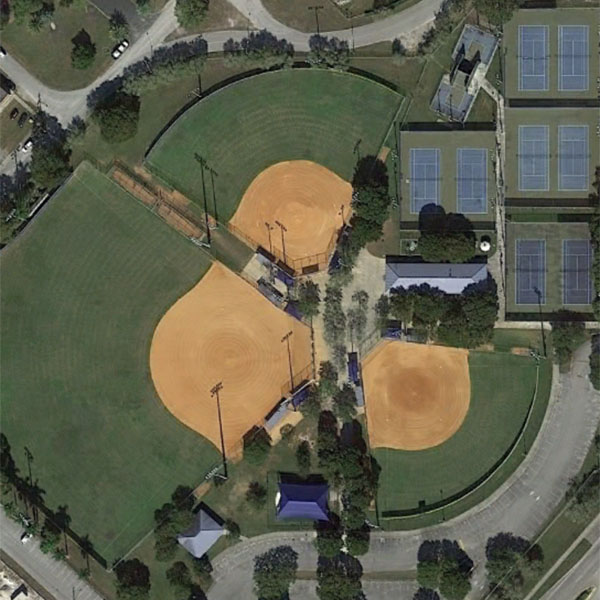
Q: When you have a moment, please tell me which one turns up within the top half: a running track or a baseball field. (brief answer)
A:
baseball field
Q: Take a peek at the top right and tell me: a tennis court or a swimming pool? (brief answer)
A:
tennis court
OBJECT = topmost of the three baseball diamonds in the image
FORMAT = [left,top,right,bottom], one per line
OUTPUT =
[147,69,404,276]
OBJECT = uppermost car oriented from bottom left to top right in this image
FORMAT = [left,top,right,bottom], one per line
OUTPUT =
[114,41,128,55]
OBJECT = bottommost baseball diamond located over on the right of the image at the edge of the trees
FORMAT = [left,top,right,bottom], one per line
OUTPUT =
[363,341,538,517]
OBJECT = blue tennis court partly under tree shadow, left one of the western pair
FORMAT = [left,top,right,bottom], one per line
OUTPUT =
[400,131,448,229]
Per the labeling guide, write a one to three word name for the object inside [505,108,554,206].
tennis court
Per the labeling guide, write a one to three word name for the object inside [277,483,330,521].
building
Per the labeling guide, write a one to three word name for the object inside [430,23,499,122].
sports court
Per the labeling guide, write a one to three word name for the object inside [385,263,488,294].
building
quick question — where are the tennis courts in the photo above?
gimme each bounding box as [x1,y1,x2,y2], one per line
[554,223,596,321]
[505,223,554,320]
[505,108,554,206]
[400,131,448,229]
[554,108,600,206]
[448,131,496,229]
[554,9,600,107]
[505,9,554,107]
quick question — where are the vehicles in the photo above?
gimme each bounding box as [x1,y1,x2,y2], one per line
[0,48,8,58]
[10,107,19,120]
[22,139,35,152]
[19,113,28,126]
[335,0,349,6]
[114,41,128,55]
[21,534,32,543]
